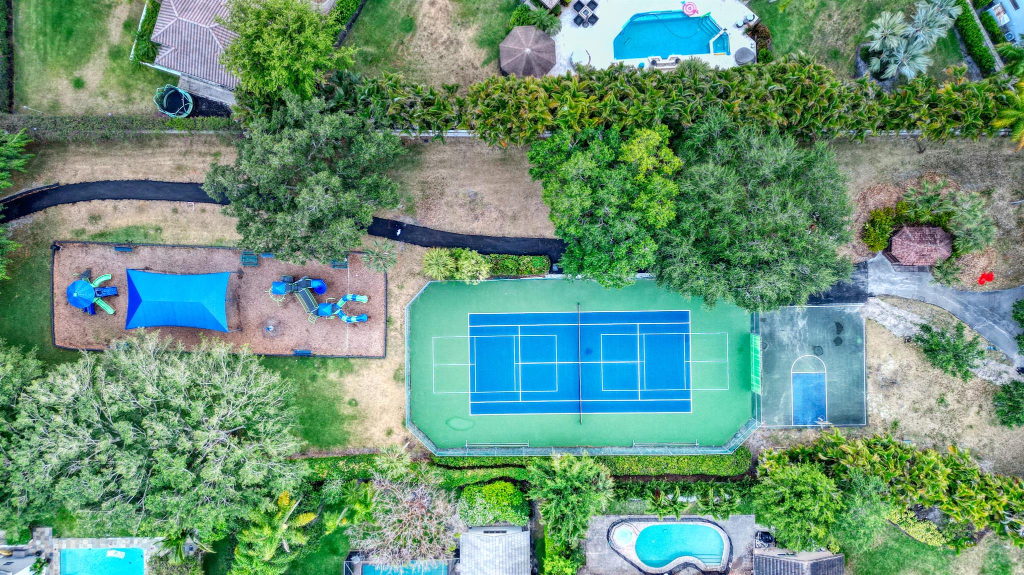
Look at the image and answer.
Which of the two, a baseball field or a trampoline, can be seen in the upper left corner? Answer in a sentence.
What appears in the upper left corner is a trampoline.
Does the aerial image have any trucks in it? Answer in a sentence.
No, there appears to be no truck in this shot.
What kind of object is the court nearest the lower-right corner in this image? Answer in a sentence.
The court nearest the lower-right corner appears to be a basketball court.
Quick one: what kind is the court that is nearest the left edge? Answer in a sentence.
The court that is nearest the left edge appears to be a tennis court.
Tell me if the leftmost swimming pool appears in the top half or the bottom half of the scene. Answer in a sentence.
It is in the bottom half that the leftmost swimming pool appears.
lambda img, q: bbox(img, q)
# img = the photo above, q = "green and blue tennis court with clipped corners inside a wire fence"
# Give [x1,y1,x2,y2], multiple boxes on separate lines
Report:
[411,279,749,448]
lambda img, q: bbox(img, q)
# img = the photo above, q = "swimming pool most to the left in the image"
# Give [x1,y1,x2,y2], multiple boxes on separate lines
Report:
[56,545,147,575]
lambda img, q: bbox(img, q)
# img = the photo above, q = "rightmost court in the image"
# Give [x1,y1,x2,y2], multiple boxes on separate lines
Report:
[749,304,868,428]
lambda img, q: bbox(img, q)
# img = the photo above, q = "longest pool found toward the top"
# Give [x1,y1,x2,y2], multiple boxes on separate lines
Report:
[614,13,722,59]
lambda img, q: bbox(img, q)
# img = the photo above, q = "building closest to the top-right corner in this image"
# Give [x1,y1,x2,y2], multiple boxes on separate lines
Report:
[880,226,953,272]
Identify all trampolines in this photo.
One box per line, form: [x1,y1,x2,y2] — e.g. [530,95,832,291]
[153,81,197,118]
